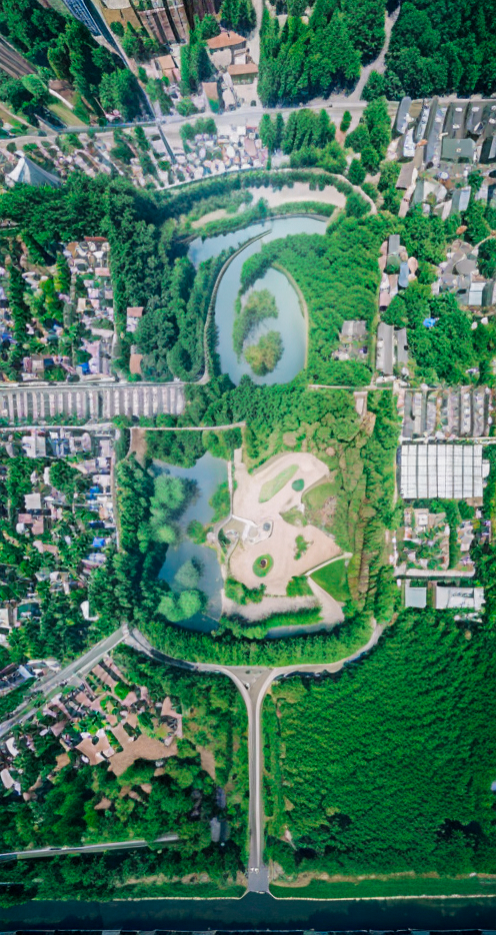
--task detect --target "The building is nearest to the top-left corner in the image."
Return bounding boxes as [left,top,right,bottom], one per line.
[62,0,106,47]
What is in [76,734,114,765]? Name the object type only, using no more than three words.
house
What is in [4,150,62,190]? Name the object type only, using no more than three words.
tent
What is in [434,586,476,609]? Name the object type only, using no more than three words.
shed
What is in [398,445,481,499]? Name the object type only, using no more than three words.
greenhouse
